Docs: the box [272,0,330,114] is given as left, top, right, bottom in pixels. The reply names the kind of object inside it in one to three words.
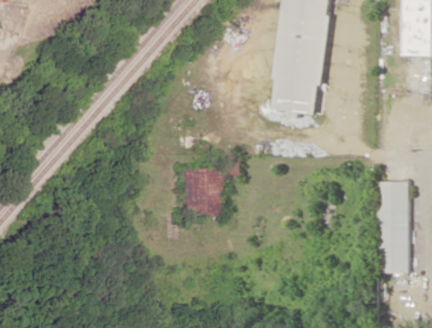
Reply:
building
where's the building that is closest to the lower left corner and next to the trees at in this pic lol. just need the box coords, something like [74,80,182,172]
[184,170,224,215]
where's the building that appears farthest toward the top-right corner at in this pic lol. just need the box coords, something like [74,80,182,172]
[399,0,432,57]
